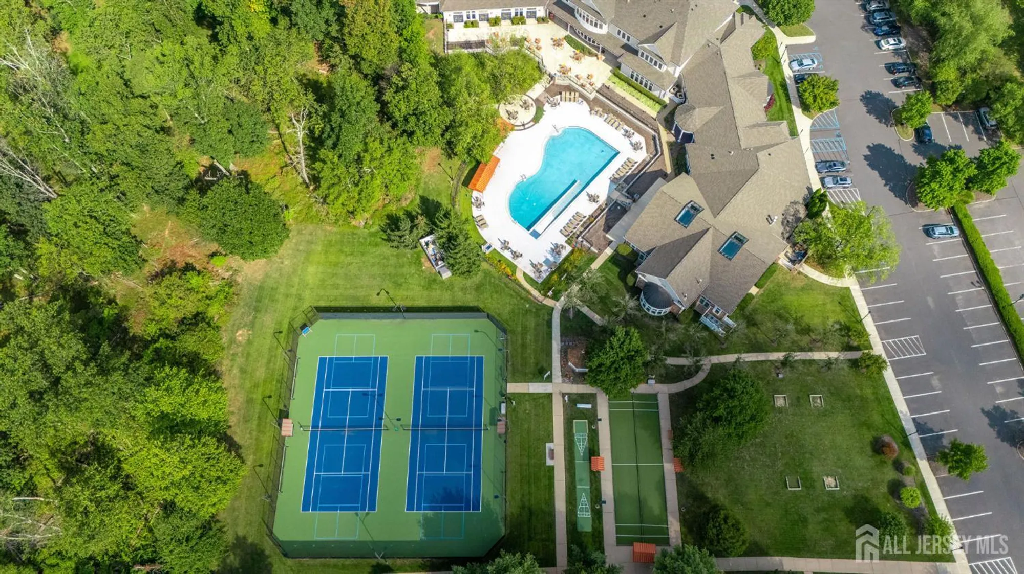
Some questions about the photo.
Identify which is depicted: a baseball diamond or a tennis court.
tennis court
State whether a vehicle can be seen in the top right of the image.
Yes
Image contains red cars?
No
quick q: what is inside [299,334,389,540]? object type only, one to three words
tennis court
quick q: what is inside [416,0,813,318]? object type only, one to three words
building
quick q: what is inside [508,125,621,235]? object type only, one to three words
swimming pool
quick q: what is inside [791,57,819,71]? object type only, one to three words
car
